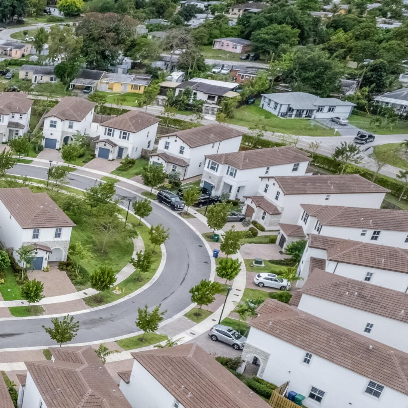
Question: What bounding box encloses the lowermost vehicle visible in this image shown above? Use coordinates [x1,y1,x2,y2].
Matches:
[206,319,241,347]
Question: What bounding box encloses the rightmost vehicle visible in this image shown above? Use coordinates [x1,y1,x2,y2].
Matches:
[353,130,376,143]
